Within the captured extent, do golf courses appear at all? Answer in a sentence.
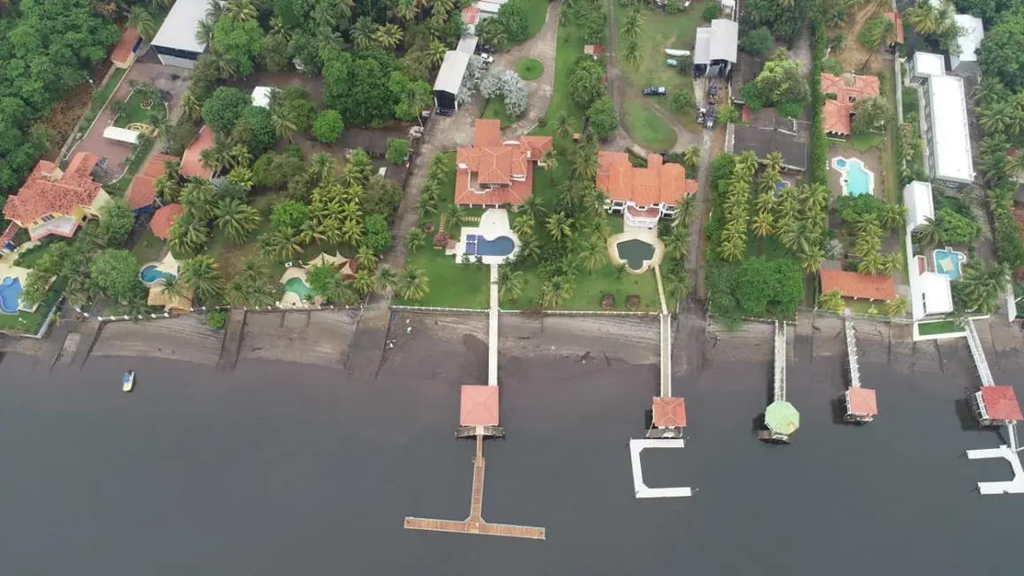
No, the photo shows no golf course.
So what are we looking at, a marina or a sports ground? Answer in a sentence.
The area seen from above is a marina.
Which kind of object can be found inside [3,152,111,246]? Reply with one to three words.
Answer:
house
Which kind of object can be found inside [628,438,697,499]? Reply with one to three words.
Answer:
pier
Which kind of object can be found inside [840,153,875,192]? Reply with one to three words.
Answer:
swimming pool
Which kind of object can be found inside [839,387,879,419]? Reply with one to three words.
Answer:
gazebo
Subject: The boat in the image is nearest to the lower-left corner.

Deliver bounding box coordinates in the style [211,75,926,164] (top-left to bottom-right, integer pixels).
[118,369,133,391]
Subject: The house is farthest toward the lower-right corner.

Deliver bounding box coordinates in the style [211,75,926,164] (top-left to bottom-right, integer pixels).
[922,275,953,317]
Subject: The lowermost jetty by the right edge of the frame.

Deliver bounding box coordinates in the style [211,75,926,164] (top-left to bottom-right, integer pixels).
[962,444,1024,497]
